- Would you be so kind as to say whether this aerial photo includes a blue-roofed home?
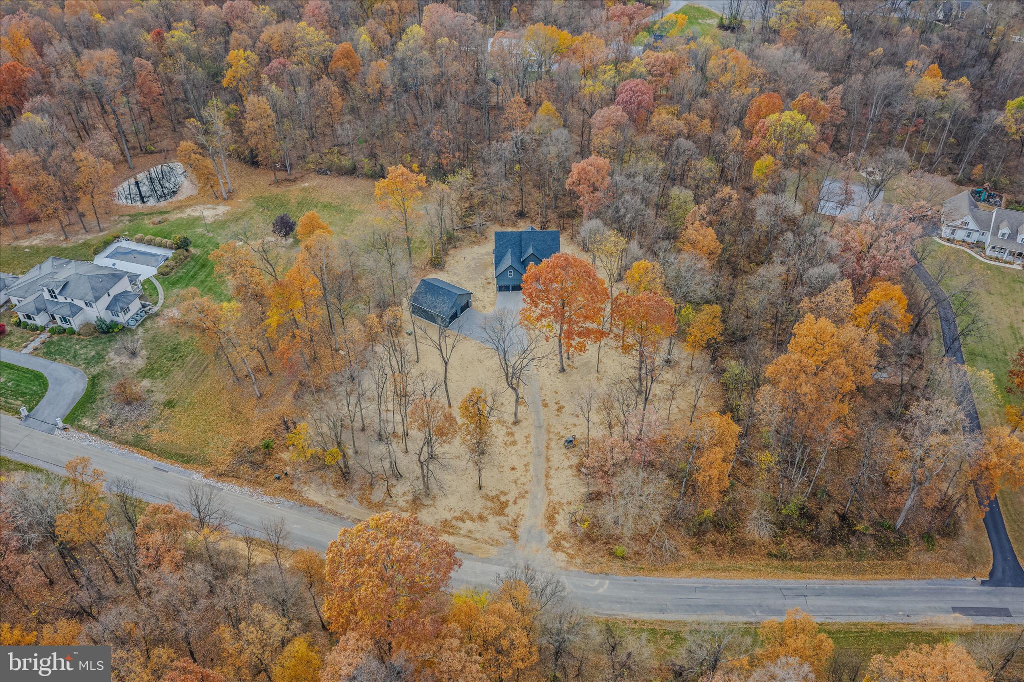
Yes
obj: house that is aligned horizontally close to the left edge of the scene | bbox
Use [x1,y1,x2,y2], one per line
[0,257,150,329]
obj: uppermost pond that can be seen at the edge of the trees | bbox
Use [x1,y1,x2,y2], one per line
[116,162,185,205]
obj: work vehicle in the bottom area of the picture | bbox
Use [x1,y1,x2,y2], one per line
[563,435,581,450]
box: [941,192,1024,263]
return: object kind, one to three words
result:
house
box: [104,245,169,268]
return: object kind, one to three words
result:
swimming pool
